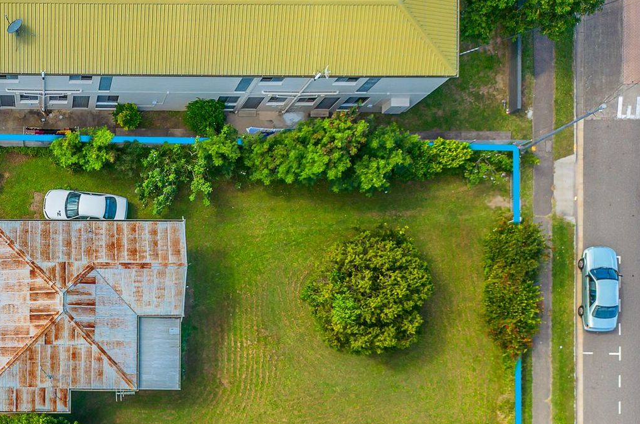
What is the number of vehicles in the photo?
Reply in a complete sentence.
Looking from above, you can make out 2 vehicles.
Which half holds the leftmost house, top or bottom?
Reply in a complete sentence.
Seen from above, the leftmost house lies in the bottom half of the view.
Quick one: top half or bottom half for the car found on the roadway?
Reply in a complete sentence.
It is in the bottom half that the car found on the roadway appears.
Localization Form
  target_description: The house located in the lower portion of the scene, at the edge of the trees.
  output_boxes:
[0,216,189,417]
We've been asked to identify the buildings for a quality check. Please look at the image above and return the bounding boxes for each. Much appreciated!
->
[0,0,463,116]
[0,216,189,417]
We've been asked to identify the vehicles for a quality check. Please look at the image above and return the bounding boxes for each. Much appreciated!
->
[43,185,130,217]
[581,248,632,334]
